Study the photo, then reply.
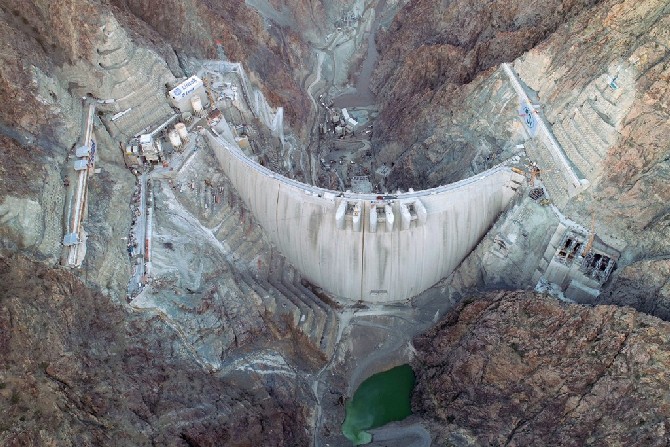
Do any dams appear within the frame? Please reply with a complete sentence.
Yes, I can see a dam in this picture.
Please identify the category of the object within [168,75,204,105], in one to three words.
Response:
building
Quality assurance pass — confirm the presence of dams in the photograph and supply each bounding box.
[208,117,527,303]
